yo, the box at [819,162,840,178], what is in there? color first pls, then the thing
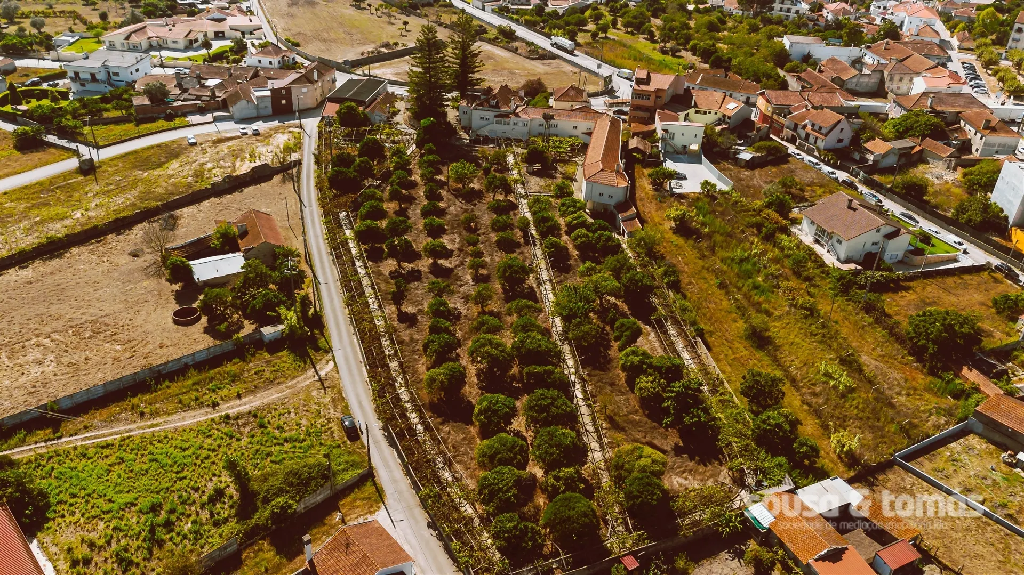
white vehicle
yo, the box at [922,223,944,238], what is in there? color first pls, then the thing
white car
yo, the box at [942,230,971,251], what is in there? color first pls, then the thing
white vehicle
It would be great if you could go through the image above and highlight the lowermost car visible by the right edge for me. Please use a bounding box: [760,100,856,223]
[992,263,1022,281]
